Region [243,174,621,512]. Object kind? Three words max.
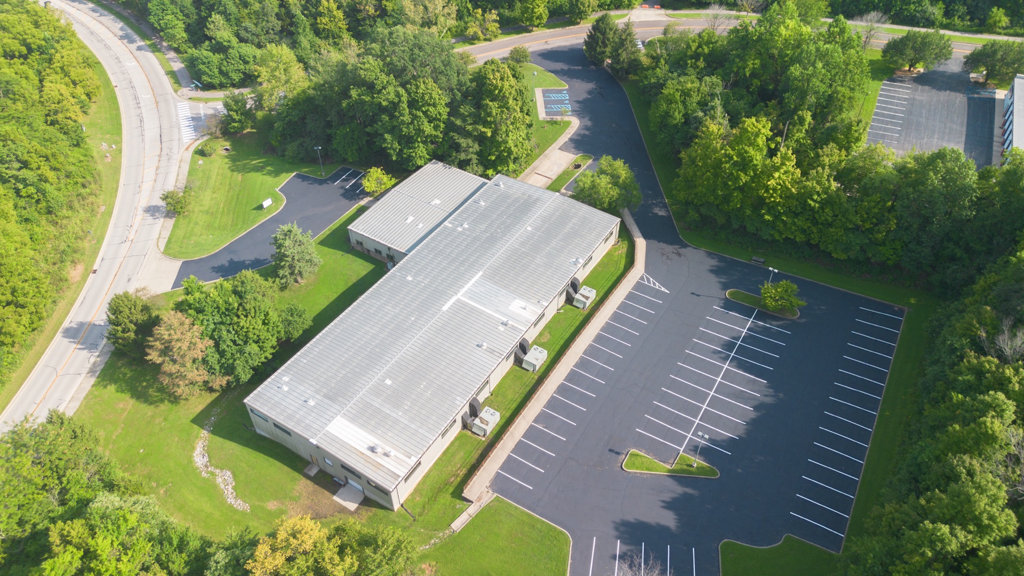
building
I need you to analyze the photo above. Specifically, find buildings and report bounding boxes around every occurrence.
[243,174,621,512]
[1000,70,1024,196]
